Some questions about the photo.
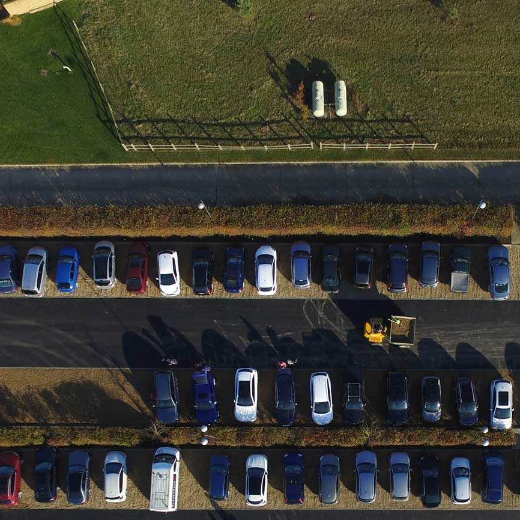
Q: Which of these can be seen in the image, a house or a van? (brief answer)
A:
van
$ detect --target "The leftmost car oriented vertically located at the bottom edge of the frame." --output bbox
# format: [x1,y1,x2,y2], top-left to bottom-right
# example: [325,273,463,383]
[0,452,26,507]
